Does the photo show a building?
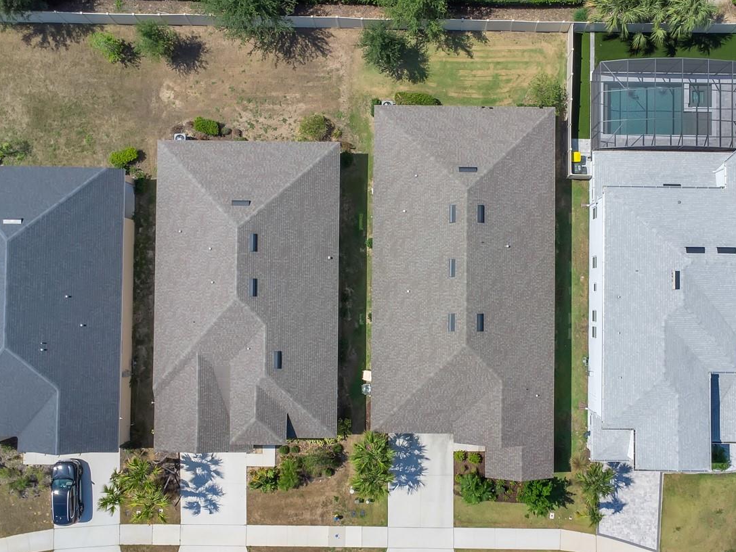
Yes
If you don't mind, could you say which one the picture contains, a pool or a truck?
pool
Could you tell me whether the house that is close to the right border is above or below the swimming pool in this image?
below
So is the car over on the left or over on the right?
left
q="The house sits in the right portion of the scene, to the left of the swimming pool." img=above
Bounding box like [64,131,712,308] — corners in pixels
[371,104,556,482]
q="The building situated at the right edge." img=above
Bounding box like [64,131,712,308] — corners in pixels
[584,148,736,473]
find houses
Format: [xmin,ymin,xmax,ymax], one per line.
[153,139,341,453]
[584,148,736,473]
[371,104,556,482]
[0,167,143,456]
